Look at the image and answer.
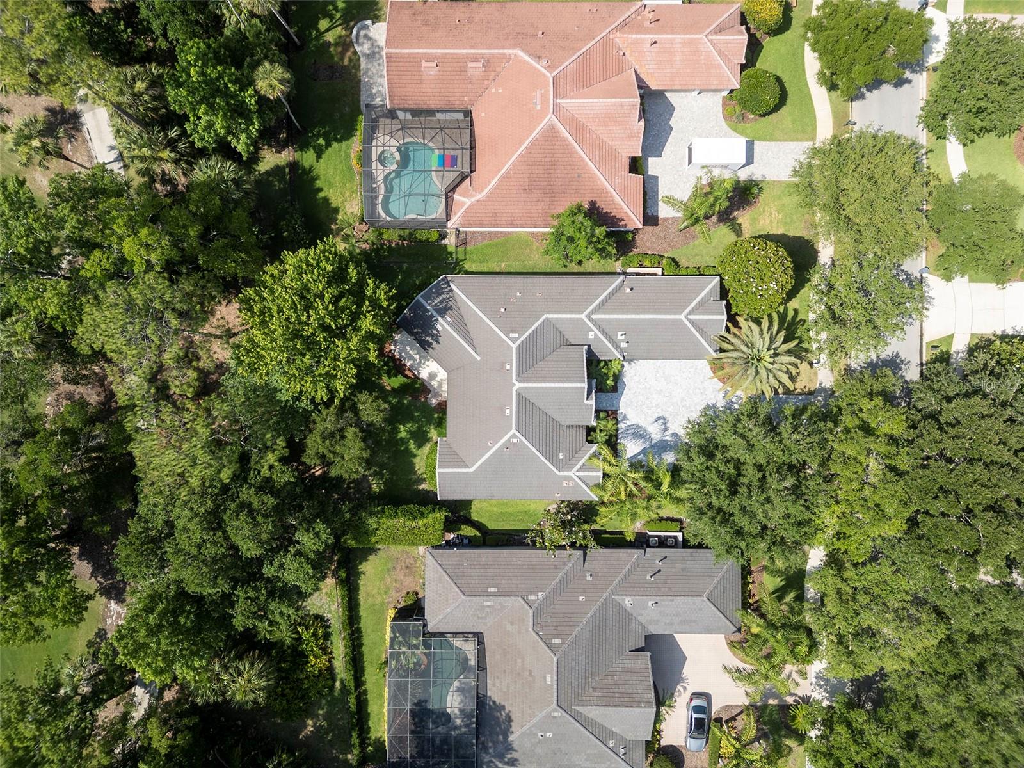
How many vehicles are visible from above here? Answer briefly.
2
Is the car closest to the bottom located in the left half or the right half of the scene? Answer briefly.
right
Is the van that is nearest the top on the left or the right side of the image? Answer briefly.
right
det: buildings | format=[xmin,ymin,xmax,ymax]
[395,274,727,502]
[425,546,741,768]
[378,0,749,231]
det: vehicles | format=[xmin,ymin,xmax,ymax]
[685,695,714,755]
[683,139,745,172]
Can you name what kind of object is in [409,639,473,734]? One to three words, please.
swimming pool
